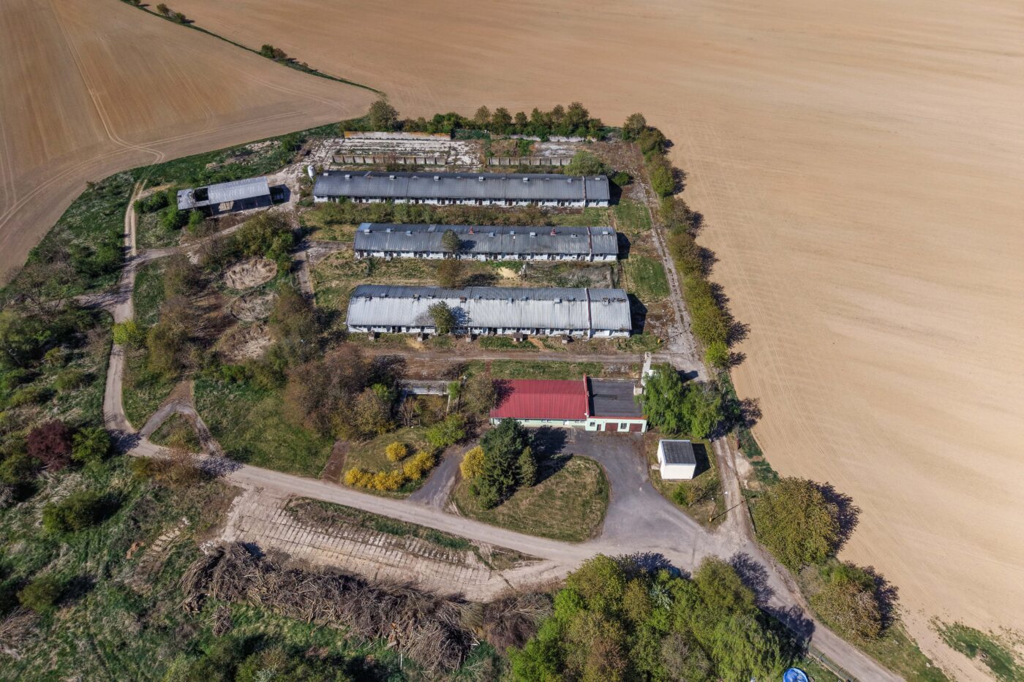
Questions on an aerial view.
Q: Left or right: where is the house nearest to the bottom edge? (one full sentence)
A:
You can find the house nearest to the bottom edge on the right side of the picture.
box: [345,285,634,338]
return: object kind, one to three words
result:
barn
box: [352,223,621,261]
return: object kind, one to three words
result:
barn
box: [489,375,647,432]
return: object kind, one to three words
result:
building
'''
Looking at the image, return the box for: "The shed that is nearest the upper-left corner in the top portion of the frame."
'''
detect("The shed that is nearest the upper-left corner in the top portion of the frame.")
[177,177,275,222]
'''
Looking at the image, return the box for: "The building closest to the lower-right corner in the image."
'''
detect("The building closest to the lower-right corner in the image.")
[652,439,696,479]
